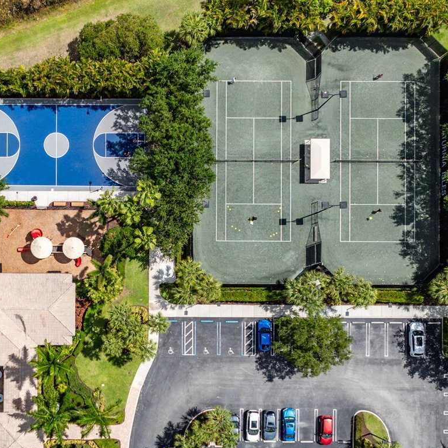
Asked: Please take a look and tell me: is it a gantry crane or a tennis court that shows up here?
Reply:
tennis court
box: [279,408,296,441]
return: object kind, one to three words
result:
car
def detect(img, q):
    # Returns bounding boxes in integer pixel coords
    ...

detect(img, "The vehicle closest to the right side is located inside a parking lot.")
[408,322,425,357]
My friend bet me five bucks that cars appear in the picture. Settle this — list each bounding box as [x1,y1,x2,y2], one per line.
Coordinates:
[245,409,260,441]
[225,410,240,438]
[408,322,425,357]
[318,414,333,445]
[262,409,277,440]
[257,319,271,351]
[279,408,296,441]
